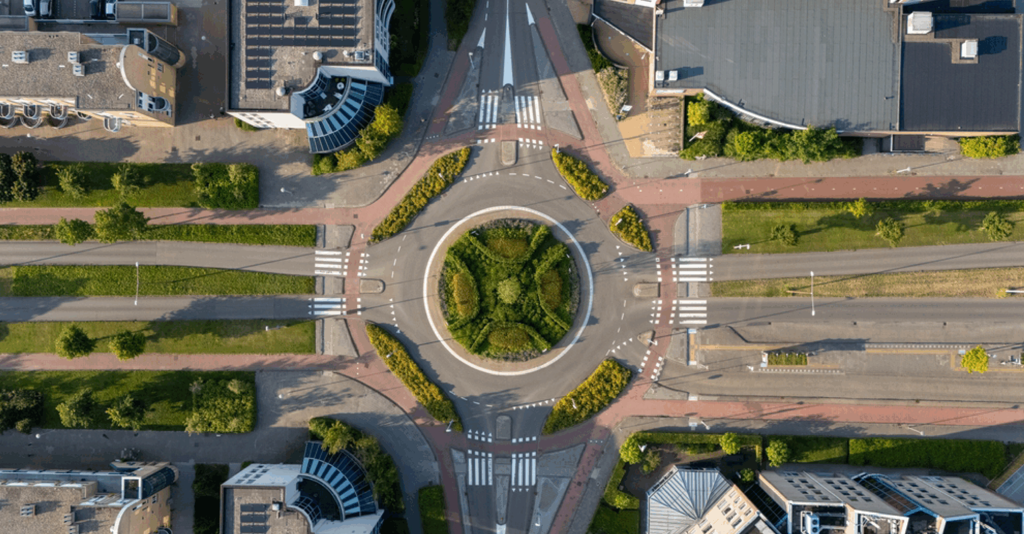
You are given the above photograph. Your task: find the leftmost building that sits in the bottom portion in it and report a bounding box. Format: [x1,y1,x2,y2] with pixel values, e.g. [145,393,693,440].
[0,457,182,534]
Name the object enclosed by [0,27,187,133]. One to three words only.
building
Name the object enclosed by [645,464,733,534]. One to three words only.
house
